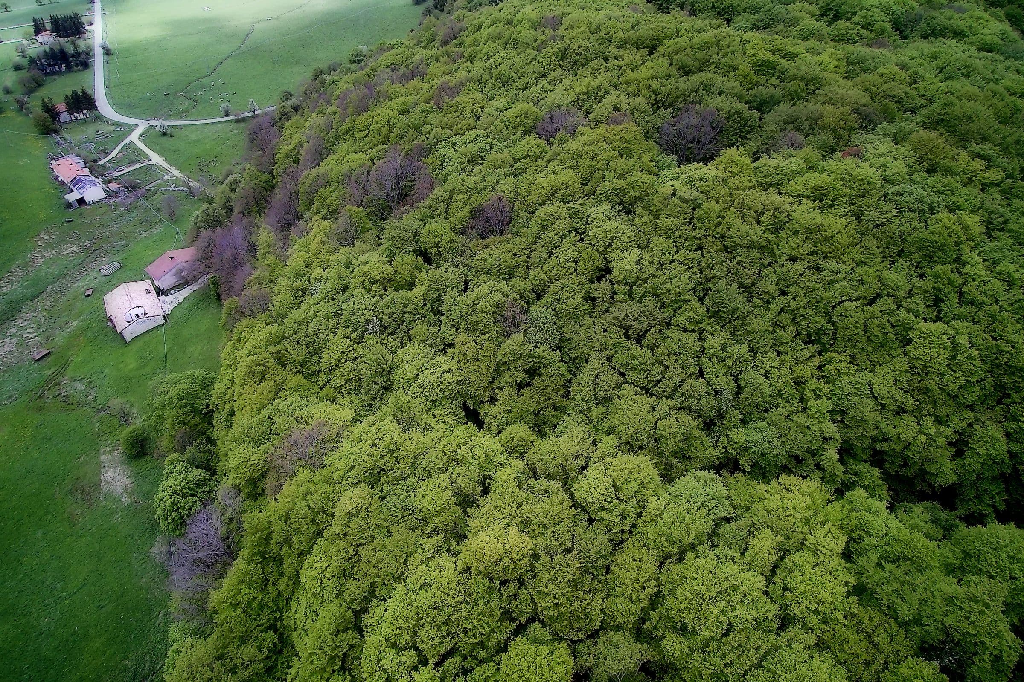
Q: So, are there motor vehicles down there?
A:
No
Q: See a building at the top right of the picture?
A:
No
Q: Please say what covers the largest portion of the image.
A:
trees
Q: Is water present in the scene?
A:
No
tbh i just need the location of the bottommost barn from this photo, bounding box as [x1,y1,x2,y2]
[104,282,168,342]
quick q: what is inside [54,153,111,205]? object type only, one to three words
house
